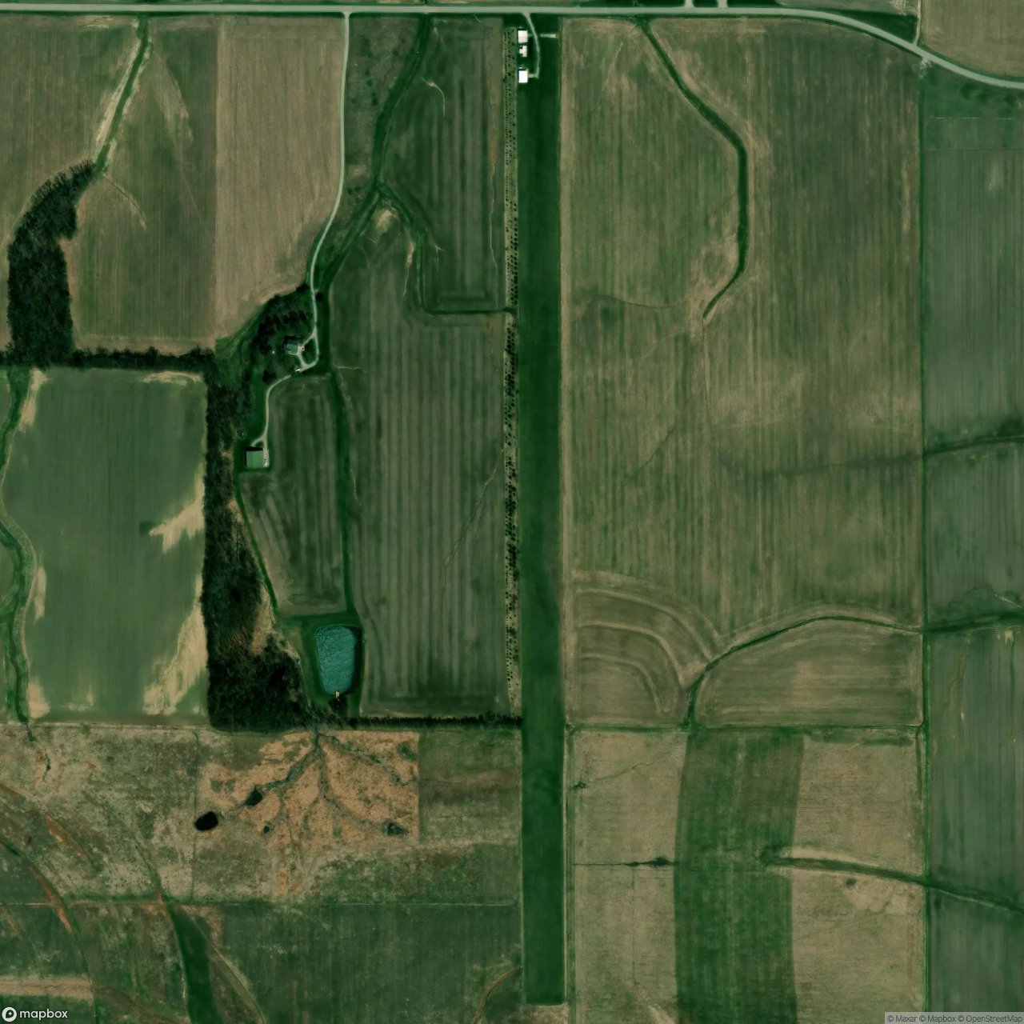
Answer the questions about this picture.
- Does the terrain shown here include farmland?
Yes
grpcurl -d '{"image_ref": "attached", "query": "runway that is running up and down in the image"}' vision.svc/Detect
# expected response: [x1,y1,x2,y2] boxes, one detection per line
[517,17,565,1004]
